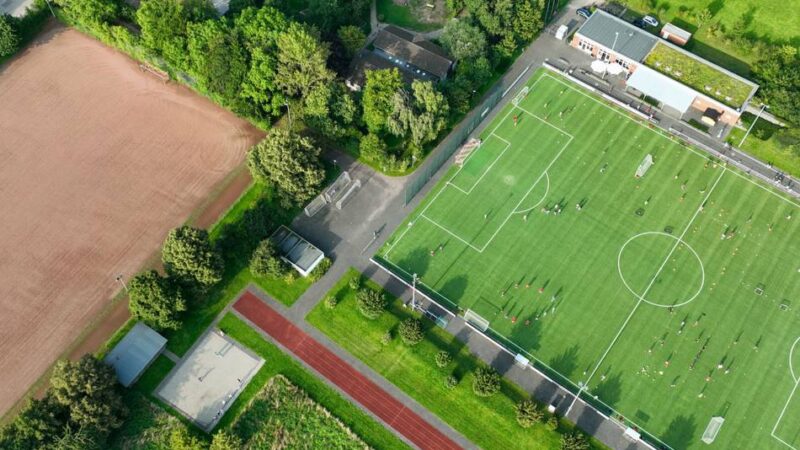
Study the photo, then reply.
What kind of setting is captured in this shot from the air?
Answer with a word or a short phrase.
sports ground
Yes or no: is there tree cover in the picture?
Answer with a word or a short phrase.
Yes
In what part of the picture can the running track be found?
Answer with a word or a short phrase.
bottom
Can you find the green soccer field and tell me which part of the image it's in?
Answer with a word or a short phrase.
right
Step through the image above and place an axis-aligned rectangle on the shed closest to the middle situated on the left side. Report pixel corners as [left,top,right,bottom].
[263,223,326,274]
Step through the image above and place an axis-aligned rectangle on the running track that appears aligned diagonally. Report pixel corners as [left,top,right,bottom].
[231,291,464,450]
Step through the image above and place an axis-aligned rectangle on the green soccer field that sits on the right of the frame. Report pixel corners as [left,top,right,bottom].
[371,66,800,450]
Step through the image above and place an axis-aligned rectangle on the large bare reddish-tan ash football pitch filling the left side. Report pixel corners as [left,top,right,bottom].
[0,27,271,431]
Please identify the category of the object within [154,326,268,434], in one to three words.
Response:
sports court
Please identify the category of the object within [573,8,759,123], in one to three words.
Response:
building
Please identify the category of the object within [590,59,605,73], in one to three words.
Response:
umbrella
